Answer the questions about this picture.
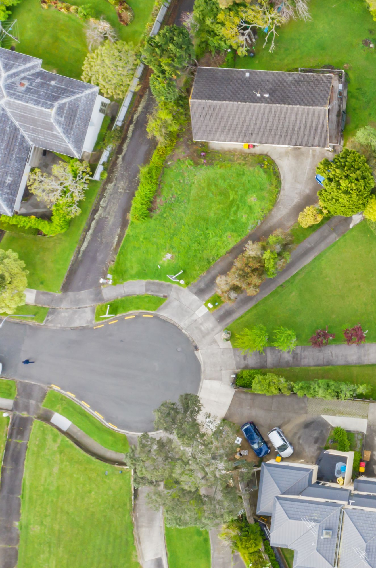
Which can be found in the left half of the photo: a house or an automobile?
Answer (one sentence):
Looking in the left half of the photo, you will find a house.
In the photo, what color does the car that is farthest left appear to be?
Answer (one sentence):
In this view, the car that is farthest left is blue.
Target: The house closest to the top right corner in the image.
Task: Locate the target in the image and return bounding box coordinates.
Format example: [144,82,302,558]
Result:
[190,66,352,152]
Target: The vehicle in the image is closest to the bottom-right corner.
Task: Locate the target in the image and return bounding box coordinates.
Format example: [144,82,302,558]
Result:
[267,427,292,459]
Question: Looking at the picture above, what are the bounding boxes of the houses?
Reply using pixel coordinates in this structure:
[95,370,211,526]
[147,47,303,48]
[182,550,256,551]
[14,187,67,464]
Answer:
[256,448,355,568]
[0,46,111,217]
[190,66,352,152]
